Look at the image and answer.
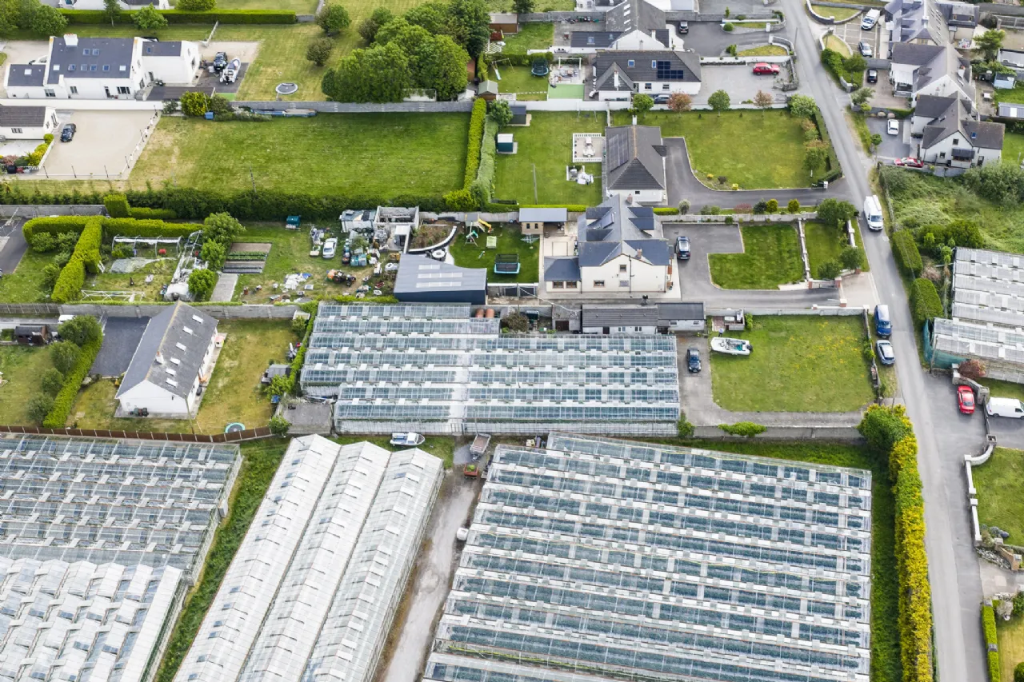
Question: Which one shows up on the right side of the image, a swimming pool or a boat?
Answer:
boat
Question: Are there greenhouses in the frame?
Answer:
Yes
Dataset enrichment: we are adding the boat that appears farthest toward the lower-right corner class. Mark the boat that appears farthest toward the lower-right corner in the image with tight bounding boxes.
[706,336,755,353]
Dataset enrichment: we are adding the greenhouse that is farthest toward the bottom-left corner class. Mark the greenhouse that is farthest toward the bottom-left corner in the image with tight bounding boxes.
[0,551,188,682]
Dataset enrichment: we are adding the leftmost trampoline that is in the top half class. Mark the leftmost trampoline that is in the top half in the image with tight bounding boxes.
[275,82,298,94]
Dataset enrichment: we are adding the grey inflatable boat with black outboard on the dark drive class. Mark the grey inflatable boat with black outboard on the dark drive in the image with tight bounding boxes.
[222,58,238,81]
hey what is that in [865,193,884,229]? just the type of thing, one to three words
vehicle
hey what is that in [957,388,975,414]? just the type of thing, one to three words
car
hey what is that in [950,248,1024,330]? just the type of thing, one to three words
greenhouse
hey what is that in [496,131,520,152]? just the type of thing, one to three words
shed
